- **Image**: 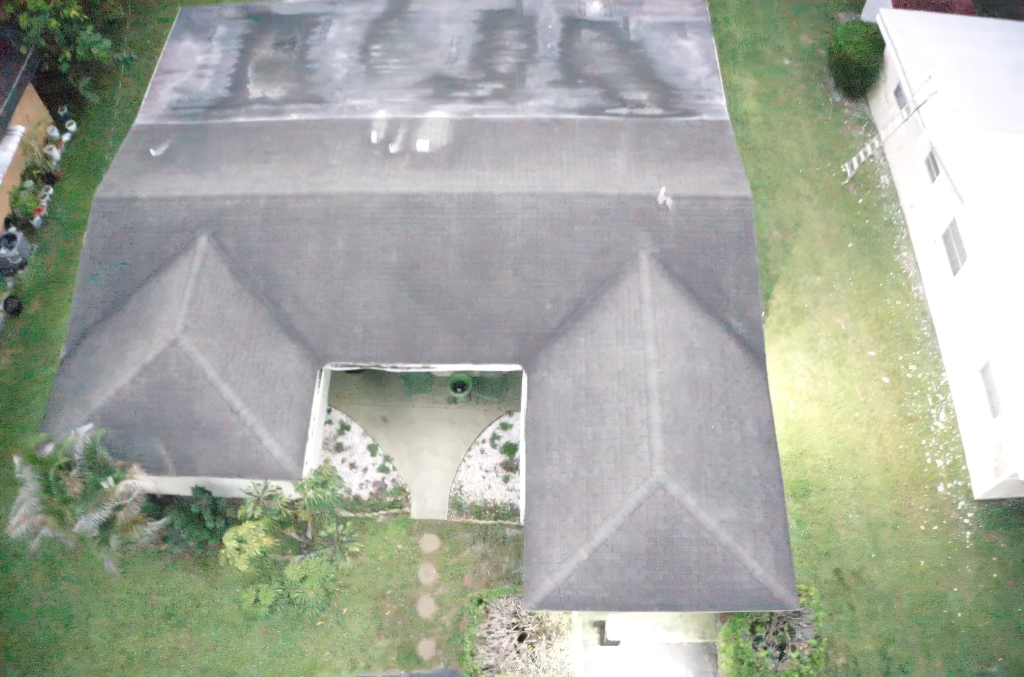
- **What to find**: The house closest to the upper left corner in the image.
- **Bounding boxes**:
[34,0,804,617]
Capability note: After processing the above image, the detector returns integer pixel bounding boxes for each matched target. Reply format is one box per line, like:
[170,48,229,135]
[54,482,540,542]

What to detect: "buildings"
[863,11,1024,501]
[34,0,804,617]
